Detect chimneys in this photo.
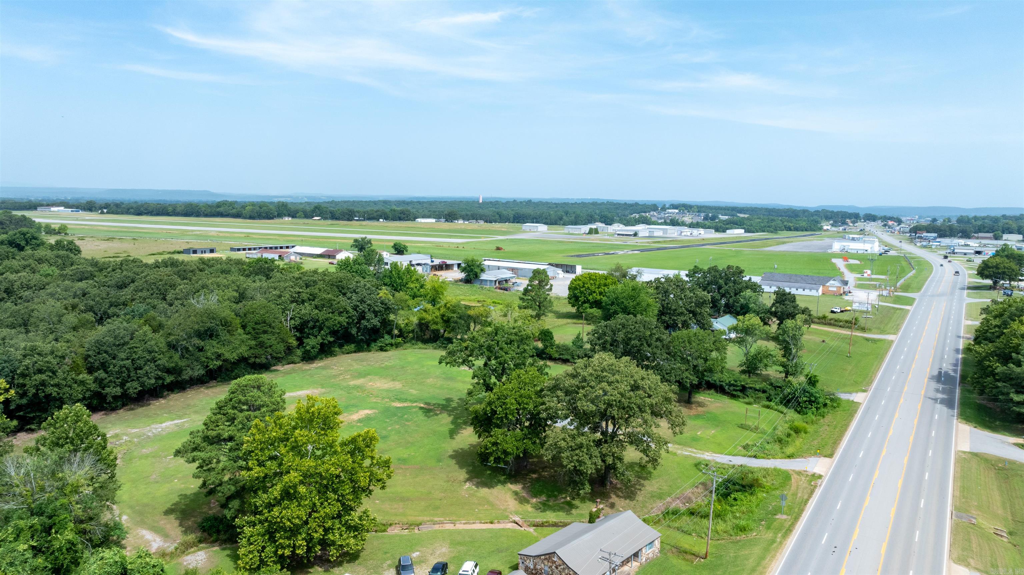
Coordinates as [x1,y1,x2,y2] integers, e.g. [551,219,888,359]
[585,491,603,523]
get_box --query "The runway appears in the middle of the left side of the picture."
[35,219,466,243]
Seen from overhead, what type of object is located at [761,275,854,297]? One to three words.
building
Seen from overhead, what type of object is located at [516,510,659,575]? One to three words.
house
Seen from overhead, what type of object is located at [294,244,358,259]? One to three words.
barn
